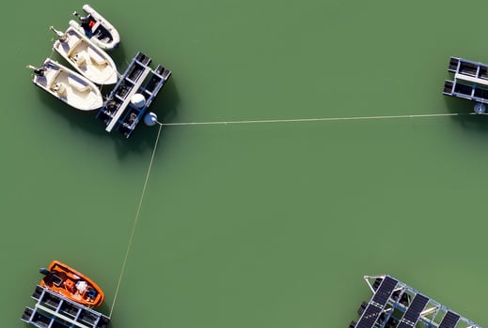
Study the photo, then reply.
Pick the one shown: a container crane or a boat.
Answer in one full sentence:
This aerial view contains a boat.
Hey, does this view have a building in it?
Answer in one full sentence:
No, no building is visible in the scene.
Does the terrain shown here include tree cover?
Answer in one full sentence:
No, the picture contains no tree cover.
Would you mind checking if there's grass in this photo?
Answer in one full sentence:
No, no grass is visible.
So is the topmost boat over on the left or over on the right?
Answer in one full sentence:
The topmost boat sits on the left side.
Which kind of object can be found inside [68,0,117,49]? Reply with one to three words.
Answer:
boat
